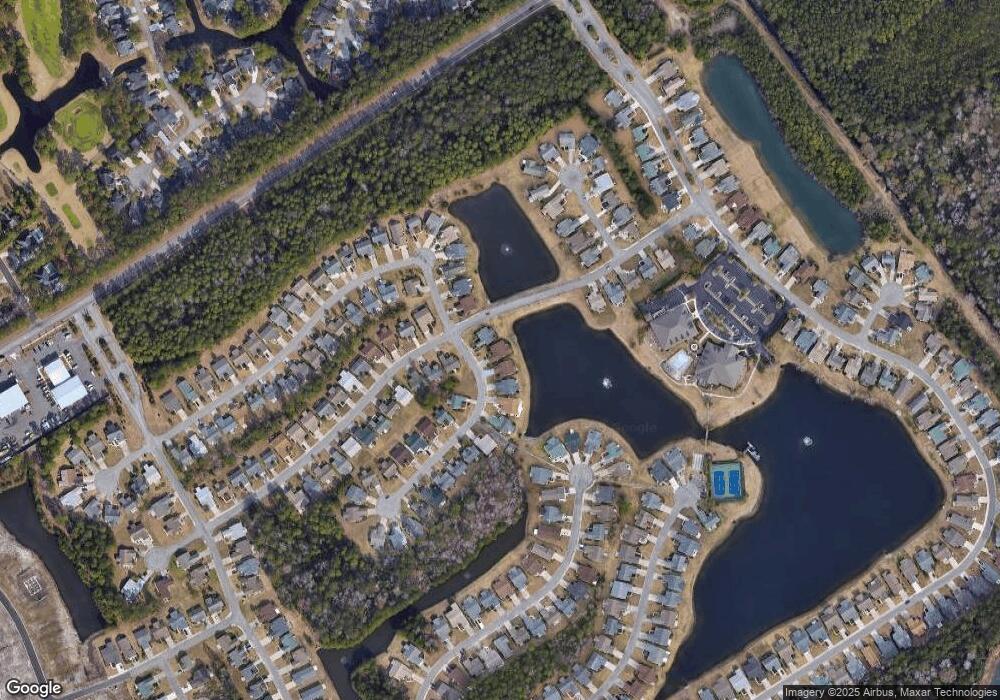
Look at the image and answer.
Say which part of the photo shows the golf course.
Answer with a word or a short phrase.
top left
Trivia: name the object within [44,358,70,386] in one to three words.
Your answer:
building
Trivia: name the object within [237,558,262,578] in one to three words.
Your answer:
house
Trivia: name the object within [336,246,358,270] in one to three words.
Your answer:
house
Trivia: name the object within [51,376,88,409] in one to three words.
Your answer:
building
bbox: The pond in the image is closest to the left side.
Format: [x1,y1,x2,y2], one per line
[0,55,102,172]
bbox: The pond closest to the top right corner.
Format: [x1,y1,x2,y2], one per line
[705,55,861,254]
